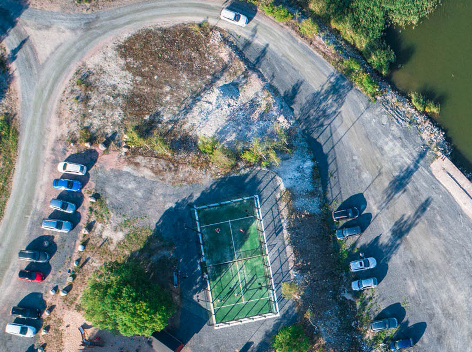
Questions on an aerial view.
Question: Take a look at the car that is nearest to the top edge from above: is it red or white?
white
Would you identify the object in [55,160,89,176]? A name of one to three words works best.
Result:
car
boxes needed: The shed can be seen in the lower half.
[148,327,185,352]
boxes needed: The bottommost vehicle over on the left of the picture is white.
[1,323,38,339]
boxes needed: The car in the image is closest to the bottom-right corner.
[389,337,415,351]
